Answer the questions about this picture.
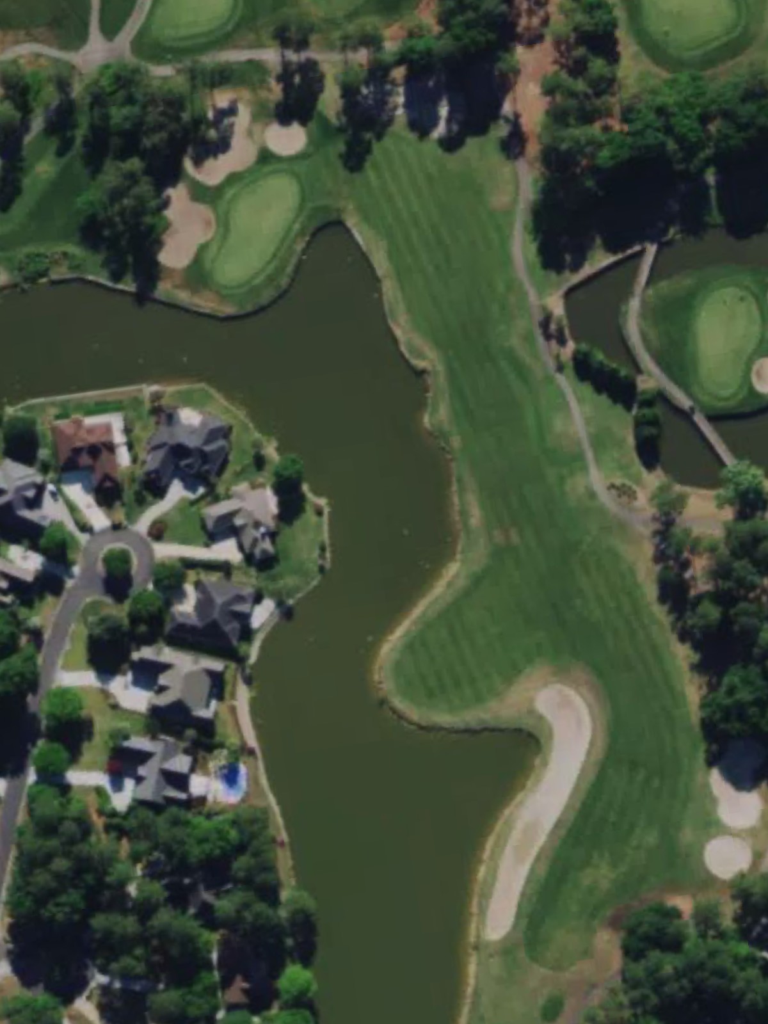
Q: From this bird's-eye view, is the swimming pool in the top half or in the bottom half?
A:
bottom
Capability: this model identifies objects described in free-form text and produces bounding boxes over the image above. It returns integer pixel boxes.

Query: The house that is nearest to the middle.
[197,479,284,566]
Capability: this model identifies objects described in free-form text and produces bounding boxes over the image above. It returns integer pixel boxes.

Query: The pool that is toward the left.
[216,760,246,799]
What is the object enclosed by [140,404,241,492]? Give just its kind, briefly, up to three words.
house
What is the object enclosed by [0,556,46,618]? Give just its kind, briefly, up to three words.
house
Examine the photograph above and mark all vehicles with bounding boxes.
[688,403,695,411]
[47,483,58,498]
